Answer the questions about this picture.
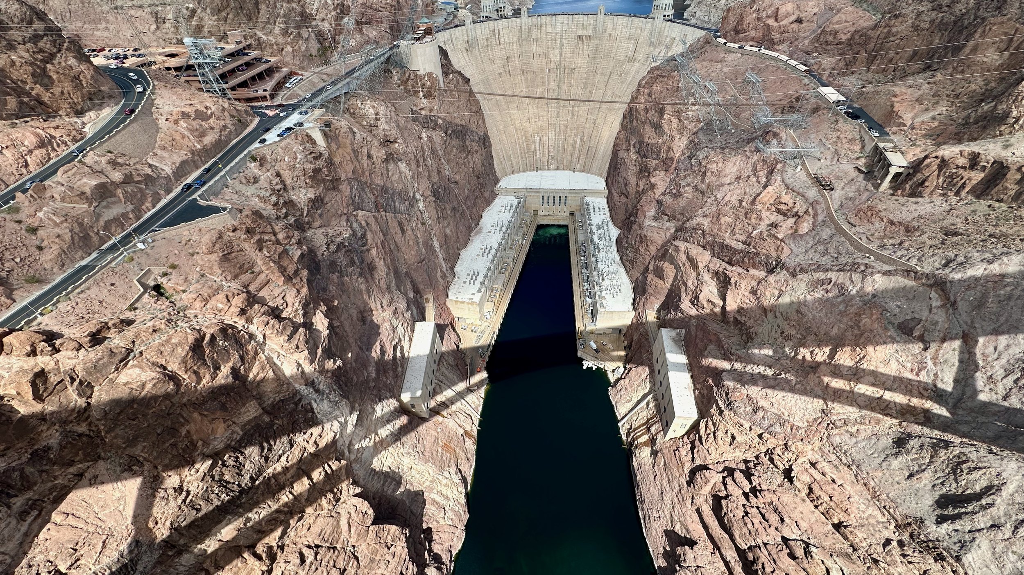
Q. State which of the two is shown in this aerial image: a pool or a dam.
dam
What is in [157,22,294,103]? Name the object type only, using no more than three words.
building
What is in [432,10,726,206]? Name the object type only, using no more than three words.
dam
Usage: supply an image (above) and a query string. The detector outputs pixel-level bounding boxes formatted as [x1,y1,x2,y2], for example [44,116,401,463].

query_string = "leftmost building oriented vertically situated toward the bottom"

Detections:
[401,322,441,423]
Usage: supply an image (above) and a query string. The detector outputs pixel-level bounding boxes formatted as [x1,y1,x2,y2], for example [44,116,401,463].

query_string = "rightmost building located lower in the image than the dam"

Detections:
[645,328,697,446]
